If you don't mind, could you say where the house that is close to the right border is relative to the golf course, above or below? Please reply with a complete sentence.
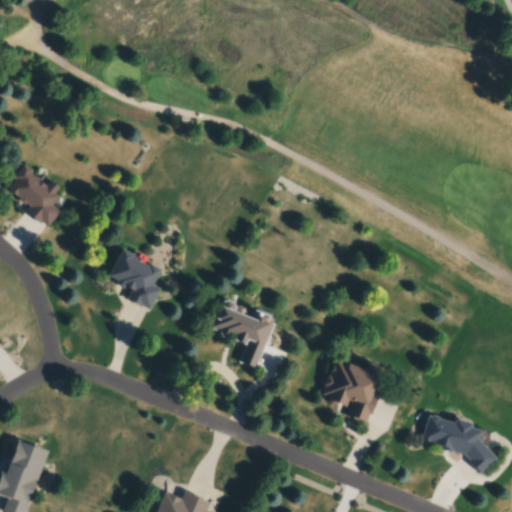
Relative to the golf course, the house that is close to the right border lies below it.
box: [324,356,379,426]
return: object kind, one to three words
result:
house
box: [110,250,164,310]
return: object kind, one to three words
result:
house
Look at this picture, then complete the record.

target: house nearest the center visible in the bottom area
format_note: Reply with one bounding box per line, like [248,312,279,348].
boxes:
[214,295,278,368]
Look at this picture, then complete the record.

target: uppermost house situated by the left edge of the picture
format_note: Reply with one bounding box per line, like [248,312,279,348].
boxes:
[9,164,66,228]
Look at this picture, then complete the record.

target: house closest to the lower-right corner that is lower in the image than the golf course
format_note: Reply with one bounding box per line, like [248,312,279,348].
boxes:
[422,412,503,478]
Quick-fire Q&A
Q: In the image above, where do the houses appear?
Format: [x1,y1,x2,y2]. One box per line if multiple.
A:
[324,356,379,426]
[422,412,503,478]
[0,440,51,512]
[156,488,213,512]
[214,295,278,368]
[9,164,66,228]
[110,250,164,310]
